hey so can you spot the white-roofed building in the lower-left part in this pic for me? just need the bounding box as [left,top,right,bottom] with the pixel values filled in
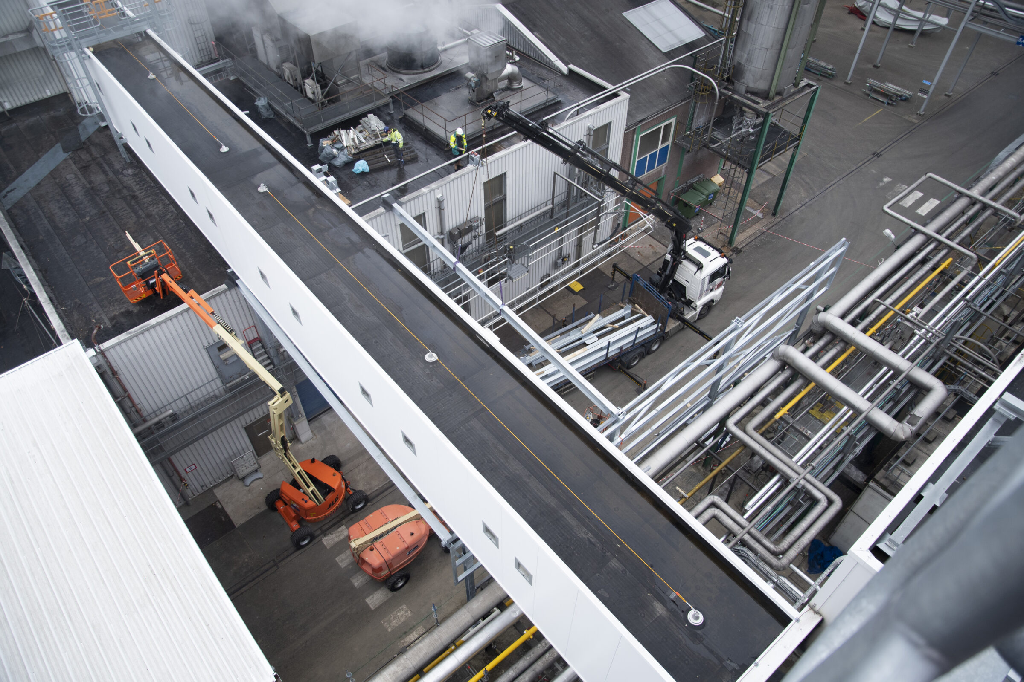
[0,338,290,682]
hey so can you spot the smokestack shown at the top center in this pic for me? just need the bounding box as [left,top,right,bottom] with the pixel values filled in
[375,2,445,77]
